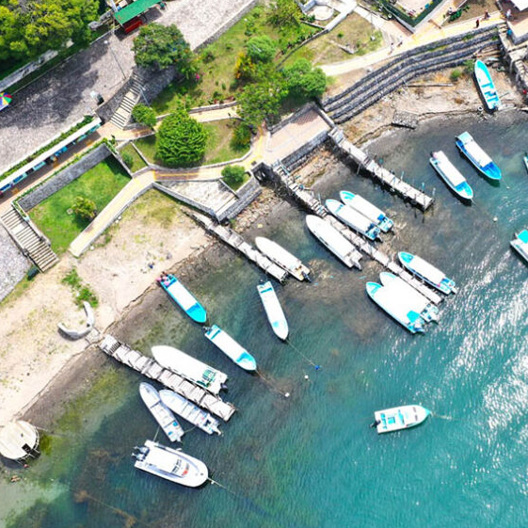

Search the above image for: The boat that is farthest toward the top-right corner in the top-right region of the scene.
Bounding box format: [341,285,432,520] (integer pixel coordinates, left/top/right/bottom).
[474,60,502,119]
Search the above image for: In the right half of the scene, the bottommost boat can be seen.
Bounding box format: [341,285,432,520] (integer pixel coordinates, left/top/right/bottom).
[369,404,431,438]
